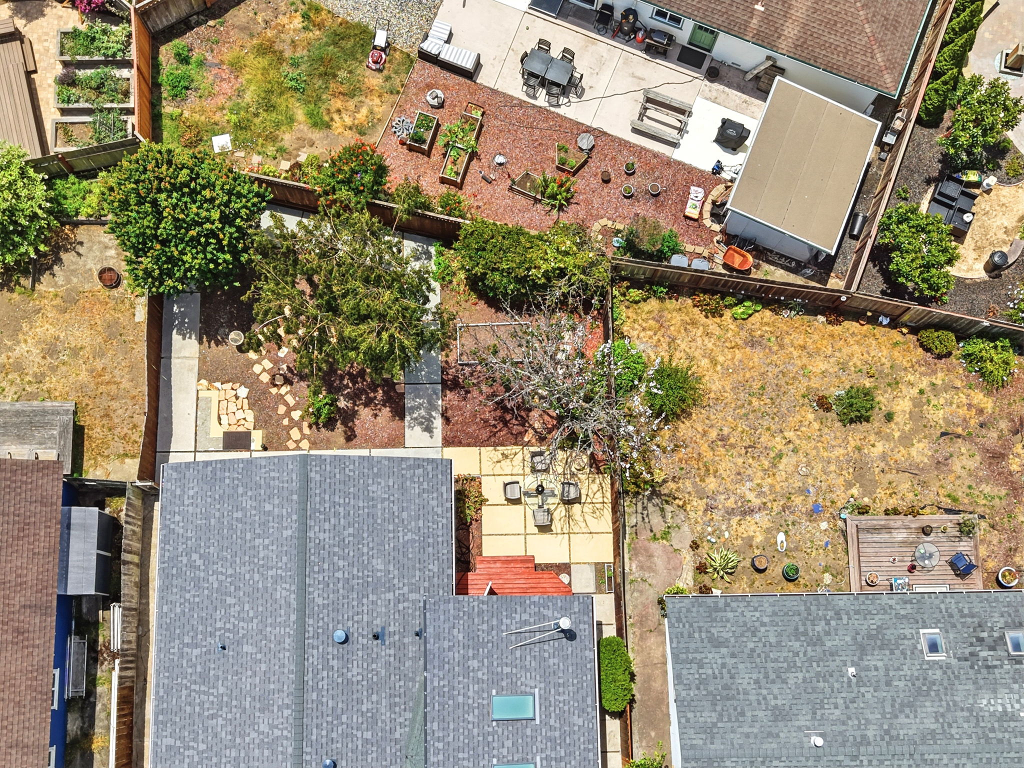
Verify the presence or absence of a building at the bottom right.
Yes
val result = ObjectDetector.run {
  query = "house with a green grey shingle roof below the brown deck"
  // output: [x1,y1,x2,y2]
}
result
[664,587,1024,768]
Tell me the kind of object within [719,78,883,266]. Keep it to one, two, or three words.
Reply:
shed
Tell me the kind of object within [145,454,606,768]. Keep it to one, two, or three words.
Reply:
house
